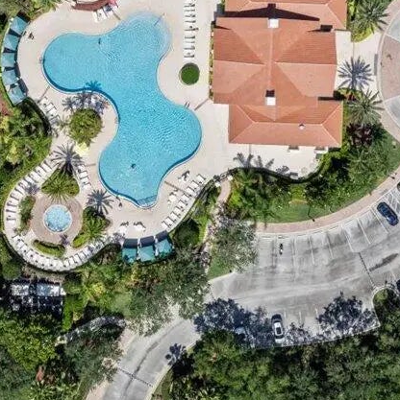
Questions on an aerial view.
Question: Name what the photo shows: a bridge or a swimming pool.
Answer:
swimming pool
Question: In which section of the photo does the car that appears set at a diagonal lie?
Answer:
right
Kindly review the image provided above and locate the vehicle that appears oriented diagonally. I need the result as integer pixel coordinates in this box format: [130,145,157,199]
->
[377,201,398,226]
